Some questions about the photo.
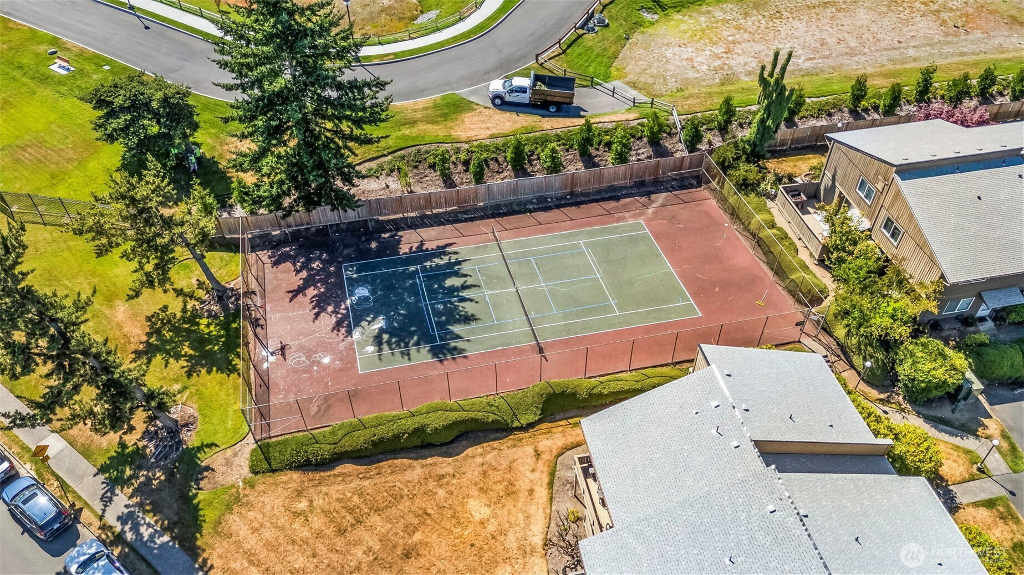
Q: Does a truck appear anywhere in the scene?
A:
Yes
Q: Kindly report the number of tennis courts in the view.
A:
1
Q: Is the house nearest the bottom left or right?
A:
right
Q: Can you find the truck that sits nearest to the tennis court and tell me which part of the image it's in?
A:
top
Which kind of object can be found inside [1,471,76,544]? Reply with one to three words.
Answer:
car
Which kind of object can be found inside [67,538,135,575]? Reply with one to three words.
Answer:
car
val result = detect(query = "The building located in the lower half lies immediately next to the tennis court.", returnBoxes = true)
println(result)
[569,344,992,575]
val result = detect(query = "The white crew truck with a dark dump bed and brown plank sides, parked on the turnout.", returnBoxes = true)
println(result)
[486,71,580,114]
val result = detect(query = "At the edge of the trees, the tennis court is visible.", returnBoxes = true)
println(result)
[250,182,814,443]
